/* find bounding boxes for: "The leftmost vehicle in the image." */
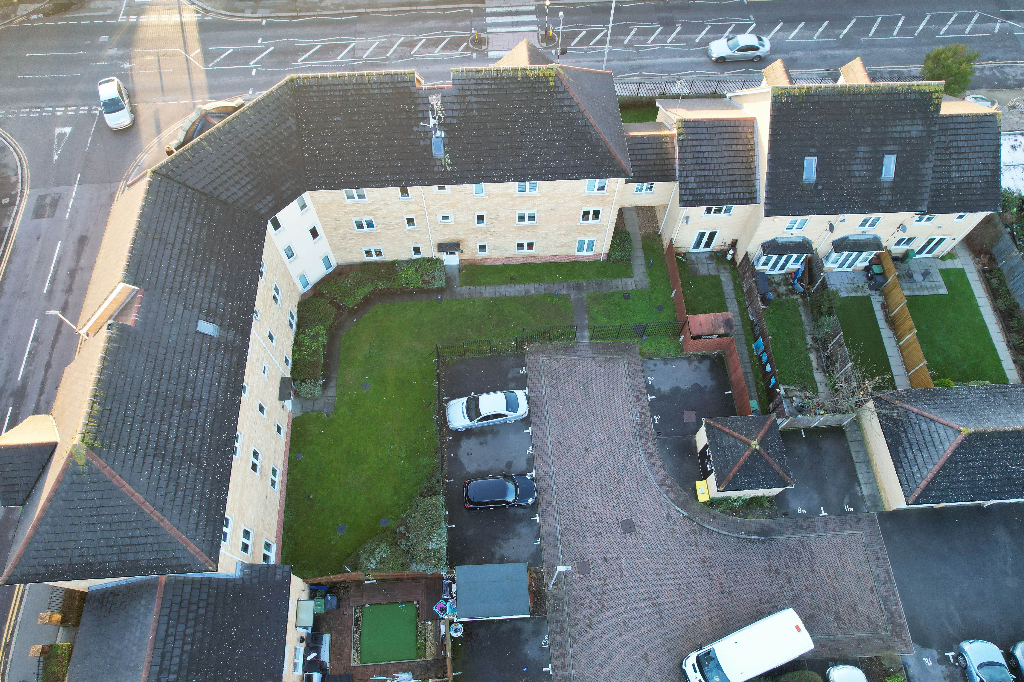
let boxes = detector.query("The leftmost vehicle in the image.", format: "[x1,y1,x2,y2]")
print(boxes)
[97,77,136,135]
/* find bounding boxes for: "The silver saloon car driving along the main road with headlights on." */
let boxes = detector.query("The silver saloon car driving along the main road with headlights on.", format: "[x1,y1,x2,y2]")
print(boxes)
[704,31,771,63]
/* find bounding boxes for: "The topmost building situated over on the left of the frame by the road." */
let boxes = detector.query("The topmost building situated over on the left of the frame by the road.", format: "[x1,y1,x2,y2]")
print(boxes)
[0,36,635,587]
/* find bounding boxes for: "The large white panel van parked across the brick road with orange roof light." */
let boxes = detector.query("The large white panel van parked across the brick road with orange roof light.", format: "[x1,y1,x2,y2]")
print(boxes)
[683,611,811,682]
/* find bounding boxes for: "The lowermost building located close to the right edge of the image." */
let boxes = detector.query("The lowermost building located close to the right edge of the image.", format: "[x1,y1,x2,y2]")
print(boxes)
[859,382,1024,511]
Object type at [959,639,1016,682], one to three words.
car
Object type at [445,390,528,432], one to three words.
car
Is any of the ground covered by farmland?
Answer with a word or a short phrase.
No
